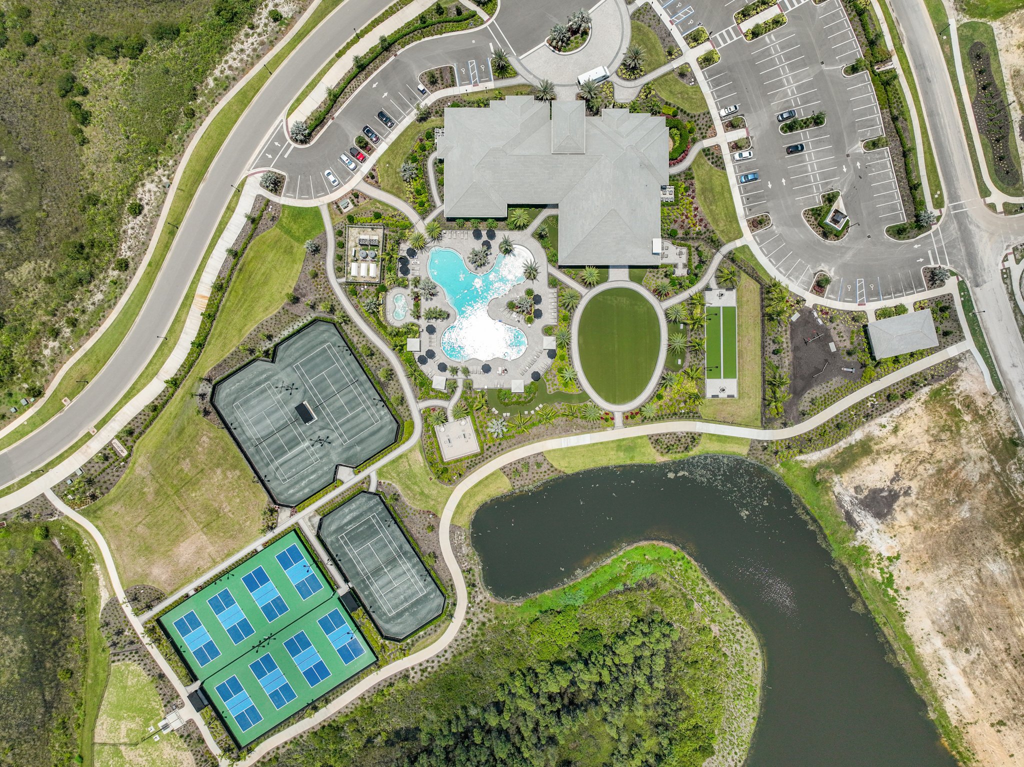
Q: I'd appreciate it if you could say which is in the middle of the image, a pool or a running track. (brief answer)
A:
pool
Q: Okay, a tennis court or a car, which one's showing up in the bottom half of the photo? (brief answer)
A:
tennis court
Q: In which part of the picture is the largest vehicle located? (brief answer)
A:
top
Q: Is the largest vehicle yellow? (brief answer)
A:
No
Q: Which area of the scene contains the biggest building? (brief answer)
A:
top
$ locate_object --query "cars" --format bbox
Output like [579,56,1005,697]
[739,173,759,183]
[340,153,356,170]
[720,105,738,118]
[376,111,394,128]
[324,170,340,188]
[733,152,753,162]
[776,110,796,122]
[362,126,380,144]
[785,144,803,155]
[350,147,366,163]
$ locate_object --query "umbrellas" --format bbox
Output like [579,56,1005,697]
[482,241,491,251]
[531,371,541,381]
[417,354,427,364]
[438,363,448,373]
[546,349,557,359]
[486,230,496,239]
[426,324,436,334]
[399,258,409,267]
[533,294,542,304]
[407,247,417,257]
[425,349,434,359]
[473,229,482,239]
[533,309,543,318]
[481,364,491,374]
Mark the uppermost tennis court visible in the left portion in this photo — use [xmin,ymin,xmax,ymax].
[215,320,397,505]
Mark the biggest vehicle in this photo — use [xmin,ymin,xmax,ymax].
[575,65,611,89]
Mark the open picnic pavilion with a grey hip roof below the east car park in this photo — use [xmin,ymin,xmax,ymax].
[864,309,939,359]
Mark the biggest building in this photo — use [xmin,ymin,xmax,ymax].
[437,95,669,265]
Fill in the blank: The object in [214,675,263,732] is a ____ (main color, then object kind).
blue sports court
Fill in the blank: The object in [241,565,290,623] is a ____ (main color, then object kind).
blue sports court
